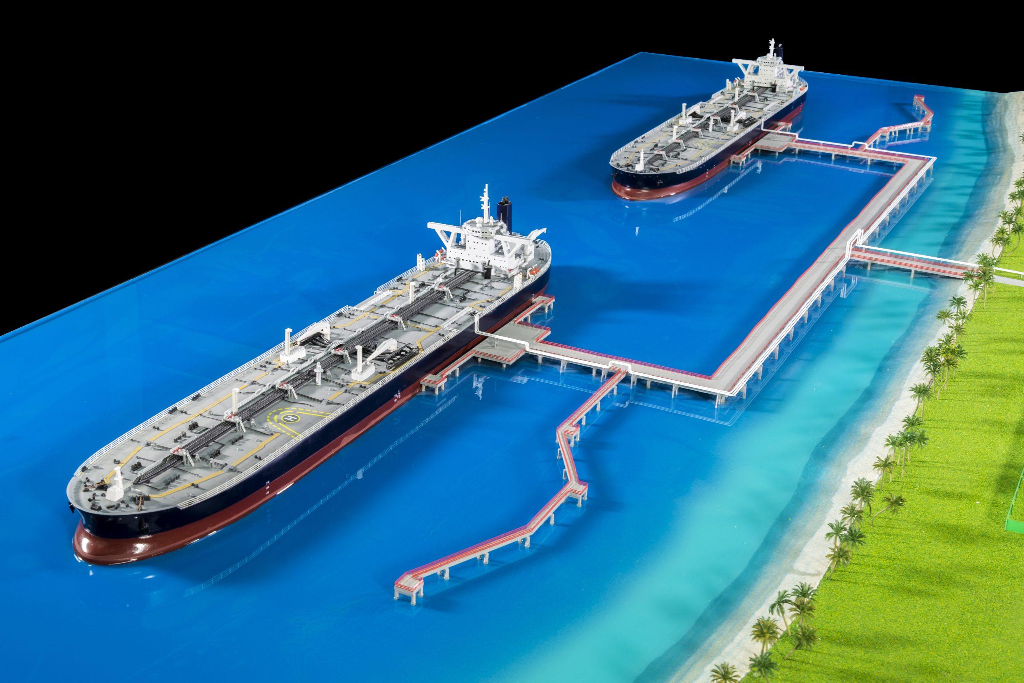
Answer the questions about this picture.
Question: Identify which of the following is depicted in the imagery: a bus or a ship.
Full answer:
The one in the frame is a ship.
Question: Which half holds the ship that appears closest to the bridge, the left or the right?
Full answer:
The ship that appears closest to the bridge is on the right side of the image.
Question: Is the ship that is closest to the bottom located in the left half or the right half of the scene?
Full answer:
It is on the left.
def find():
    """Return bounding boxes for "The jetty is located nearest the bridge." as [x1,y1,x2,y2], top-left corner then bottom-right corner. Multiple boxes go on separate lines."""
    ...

[707,160,927,394]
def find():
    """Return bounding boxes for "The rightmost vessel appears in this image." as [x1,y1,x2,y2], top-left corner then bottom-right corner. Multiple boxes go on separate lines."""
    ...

[609,31,812,200]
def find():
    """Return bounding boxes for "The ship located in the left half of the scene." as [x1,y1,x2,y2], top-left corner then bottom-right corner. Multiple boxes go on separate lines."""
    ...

[70,184,551,563]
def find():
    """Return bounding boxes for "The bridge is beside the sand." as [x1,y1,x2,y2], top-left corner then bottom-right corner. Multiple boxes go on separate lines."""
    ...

[845,249,1024,291]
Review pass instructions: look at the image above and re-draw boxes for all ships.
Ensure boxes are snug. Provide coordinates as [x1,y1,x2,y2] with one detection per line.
[70,184,551,563]
[609,31,812,200]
